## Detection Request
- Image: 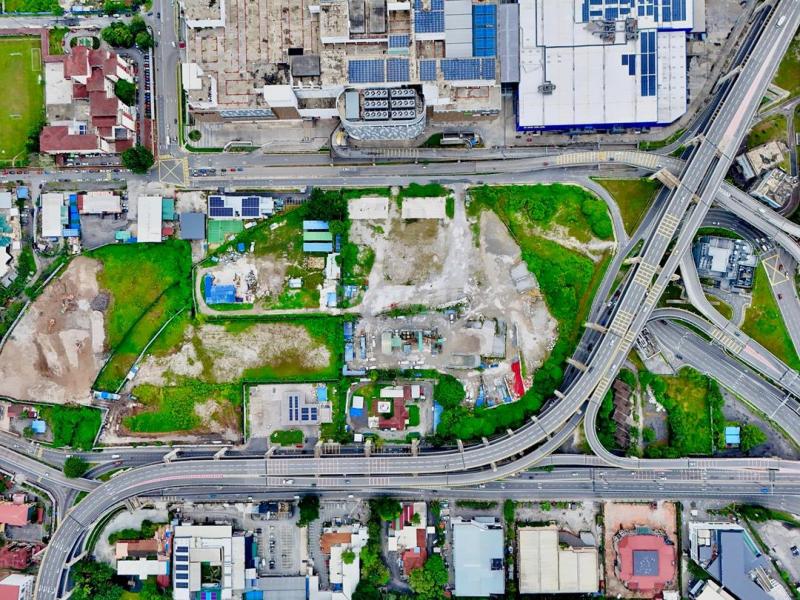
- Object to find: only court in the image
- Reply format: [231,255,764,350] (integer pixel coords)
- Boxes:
[208,220,243,243]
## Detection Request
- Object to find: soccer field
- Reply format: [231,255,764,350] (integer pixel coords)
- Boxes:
[0,38,45,166]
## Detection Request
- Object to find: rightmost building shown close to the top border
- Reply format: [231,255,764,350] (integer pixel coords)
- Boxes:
[515,0,705,134]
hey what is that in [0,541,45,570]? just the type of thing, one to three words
house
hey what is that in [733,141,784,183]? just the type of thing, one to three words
building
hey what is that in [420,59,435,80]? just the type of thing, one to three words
solar panel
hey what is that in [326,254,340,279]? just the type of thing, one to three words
shed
